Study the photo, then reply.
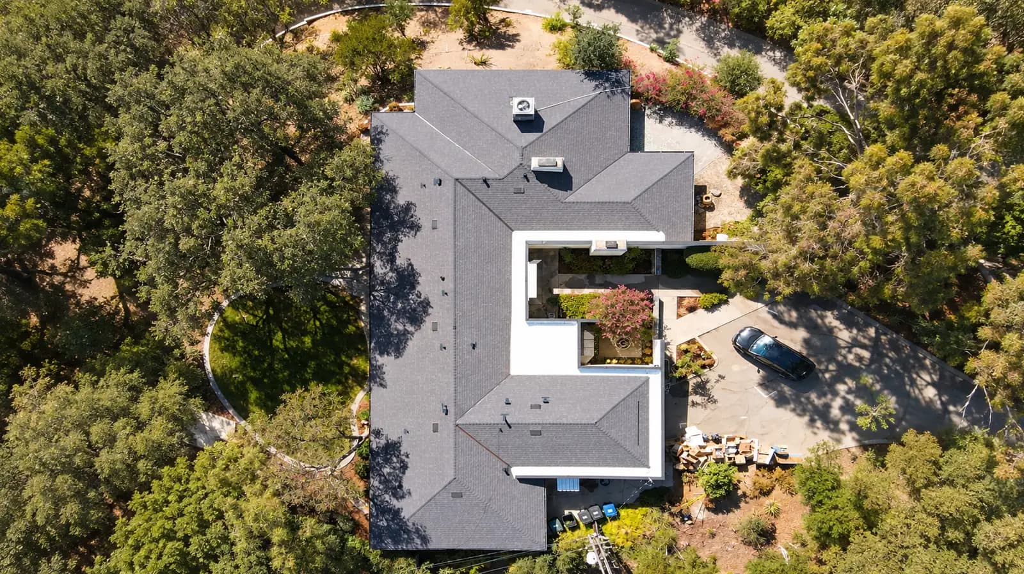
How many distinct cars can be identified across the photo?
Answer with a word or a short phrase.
1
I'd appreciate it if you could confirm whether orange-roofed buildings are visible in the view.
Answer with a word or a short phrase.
No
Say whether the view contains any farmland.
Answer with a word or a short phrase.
No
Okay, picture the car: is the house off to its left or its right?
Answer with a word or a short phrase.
left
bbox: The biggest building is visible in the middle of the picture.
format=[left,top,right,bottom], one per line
[368,66,754,551]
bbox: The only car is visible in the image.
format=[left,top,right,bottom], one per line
[730,324,818,382]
